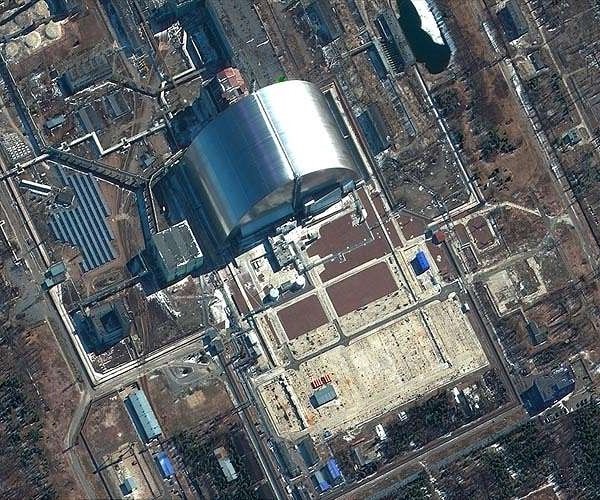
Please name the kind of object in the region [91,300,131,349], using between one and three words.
building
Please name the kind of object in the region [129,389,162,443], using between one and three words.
building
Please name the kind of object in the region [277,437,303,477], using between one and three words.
shed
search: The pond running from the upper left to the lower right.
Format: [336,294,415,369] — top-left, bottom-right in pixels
[397,0,452,74]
